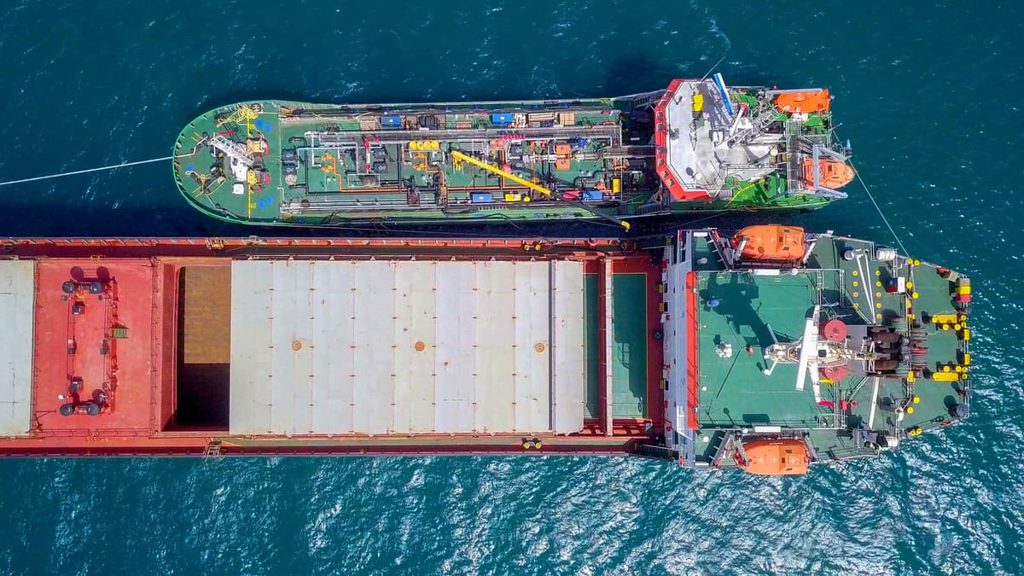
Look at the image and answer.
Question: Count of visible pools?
0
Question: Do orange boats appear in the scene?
Yes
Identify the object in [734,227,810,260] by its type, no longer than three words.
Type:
boat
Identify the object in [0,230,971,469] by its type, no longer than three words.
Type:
ship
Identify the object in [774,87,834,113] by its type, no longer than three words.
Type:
boat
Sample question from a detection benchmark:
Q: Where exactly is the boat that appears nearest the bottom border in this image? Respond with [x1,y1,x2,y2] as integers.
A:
[737,438,814,472]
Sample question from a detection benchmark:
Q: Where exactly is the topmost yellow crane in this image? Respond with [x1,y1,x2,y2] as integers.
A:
[450,148,632,233]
